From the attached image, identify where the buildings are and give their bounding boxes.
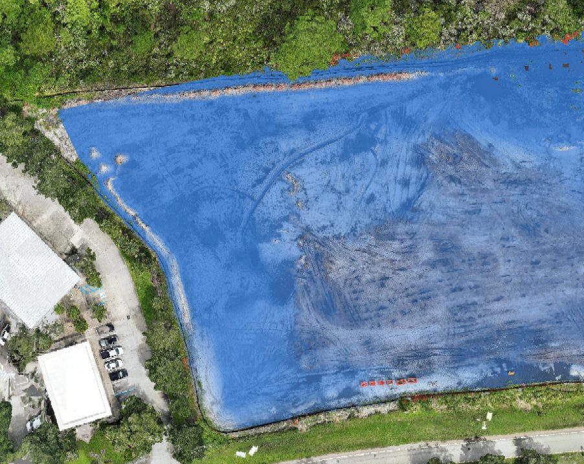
[38,341,113,431]
[0,211,80,328]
